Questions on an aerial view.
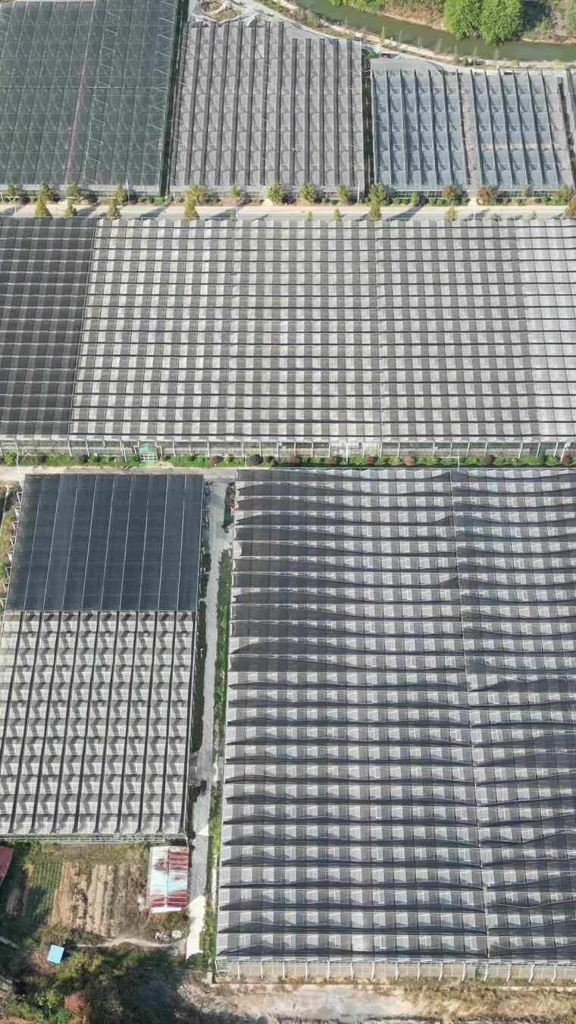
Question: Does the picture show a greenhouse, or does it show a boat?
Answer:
greenhouse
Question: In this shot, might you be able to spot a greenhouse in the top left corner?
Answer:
Yes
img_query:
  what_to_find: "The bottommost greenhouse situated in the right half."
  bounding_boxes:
[215,465,576,983]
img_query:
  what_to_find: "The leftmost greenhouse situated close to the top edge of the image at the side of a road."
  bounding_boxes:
[0,0,179,199]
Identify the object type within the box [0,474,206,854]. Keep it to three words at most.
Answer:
greenhouse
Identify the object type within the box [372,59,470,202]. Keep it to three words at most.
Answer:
greenhouse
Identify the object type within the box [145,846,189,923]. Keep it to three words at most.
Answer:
shed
